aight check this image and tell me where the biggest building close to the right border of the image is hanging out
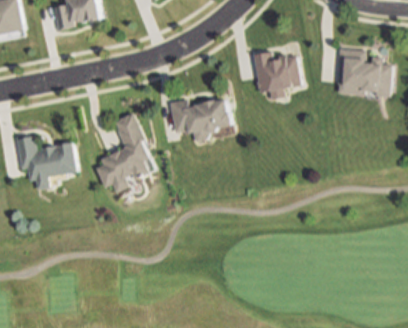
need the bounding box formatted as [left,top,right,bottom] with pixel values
[338,48,398,100]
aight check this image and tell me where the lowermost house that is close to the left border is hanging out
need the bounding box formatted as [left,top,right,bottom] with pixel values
[18,134,80,192]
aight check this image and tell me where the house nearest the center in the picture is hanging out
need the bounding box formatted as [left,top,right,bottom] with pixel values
[172,98,238,147]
